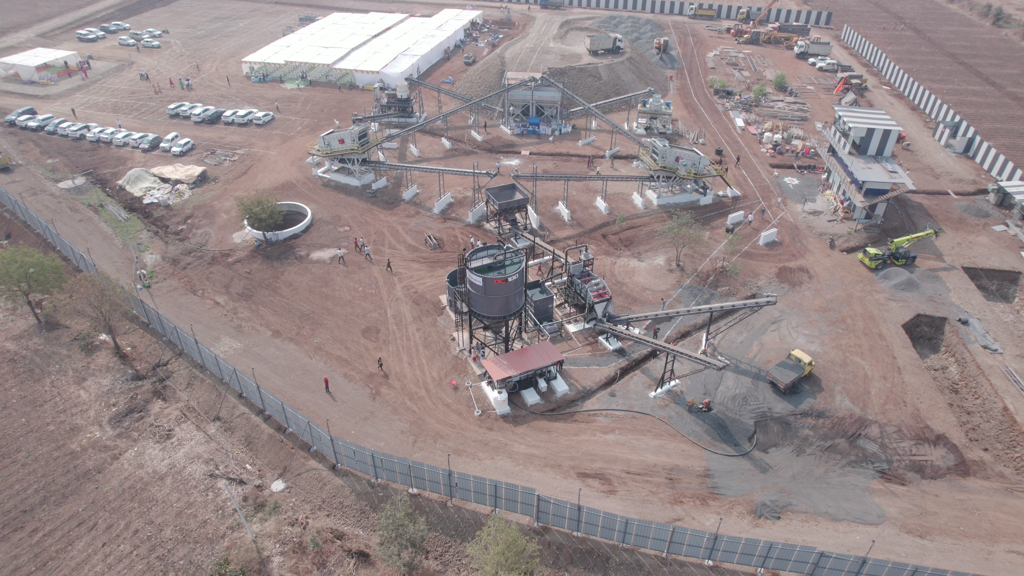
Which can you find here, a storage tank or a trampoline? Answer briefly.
storage tank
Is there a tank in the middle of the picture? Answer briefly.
Yes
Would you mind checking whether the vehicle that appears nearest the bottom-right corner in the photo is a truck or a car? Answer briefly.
truck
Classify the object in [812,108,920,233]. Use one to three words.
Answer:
building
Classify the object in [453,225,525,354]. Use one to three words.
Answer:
storage tank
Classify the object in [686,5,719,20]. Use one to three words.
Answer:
vehicle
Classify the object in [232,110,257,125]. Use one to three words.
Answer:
car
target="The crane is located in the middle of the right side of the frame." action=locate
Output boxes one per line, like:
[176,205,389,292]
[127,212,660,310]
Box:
[862,220,952,267]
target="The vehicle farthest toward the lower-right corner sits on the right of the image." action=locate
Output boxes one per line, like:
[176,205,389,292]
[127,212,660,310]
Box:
[769,344,825,395]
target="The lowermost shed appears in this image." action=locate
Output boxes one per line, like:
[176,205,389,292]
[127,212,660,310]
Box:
[483,339,565,399]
